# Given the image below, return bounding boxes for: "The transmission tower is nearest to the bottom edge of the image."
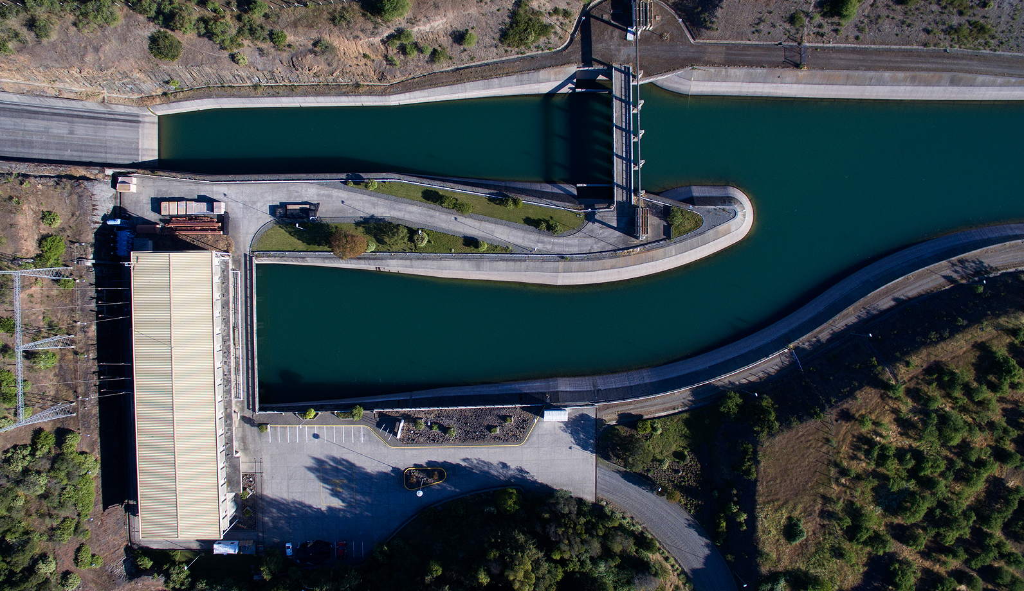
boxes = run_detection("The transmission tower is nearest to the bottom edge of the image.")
[0,401,82,429]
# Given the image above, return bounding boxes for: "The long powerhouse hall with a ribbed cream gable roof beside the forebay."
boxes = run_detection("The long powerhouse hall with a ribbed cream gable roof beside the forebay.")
[126,251,243,540]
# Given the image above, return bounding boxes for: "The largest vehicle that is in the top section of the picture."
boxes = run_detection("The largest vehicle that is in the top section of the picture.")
[273,202,318,220]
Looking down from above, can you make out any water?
Yes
